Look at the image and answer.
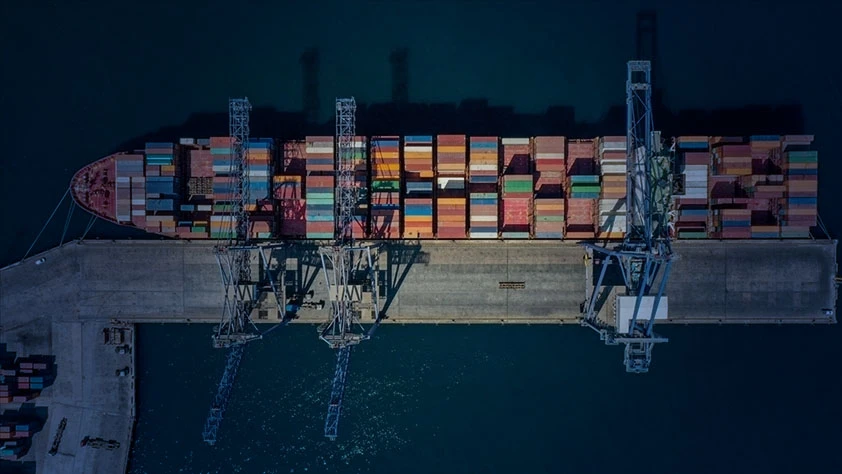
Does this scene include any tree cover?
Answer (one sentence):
No, there is no tree cover in the image.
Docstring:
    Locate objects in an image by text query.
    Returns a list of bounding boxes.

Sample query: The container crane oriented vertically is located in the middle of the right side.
[577,61,680,374]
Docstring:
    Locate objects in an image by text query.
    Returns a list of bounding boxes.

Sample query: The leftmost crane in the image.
[206,97,294,447]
